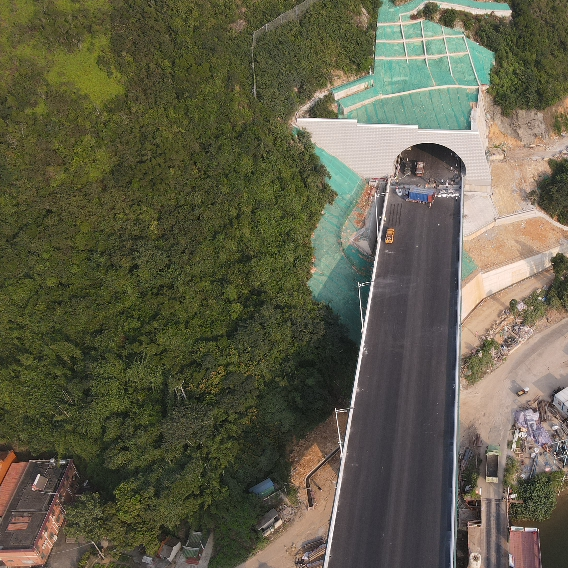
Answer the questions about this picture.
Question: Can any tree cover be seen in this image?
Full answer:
Yes, there's tree cover in this view.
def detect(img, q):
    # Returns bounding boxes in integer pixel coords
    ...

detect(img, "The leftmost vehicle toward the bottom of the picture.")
[487,441,500,483]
